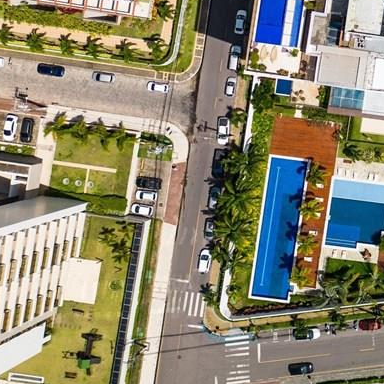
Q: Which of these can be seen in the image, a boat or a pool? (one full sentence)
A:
This aerial view contains a pool.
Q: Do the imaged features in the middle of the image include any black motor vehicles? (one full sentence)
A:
Yes, a black motor vehicle is visible in the middle of the image.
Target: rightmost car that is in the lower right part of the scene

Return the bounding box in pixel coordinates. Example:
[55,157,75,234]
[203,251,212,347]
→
[358,317,384,332]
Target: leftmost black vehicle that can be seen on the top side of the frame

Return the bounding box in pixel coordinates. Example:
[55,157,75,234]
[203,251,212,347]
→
[21,117,38,142]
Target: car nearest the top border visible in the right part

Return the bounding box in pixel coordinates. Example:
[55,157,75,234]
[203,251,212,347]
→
[234,9,249,36]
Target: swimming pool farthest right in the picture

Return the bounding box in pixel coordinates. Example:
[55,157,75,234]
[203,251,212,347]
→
[322,177,384,249]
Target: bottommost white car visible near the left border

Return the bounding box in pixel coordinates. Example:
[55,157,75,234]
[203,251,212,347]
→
[4,113,21,141]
